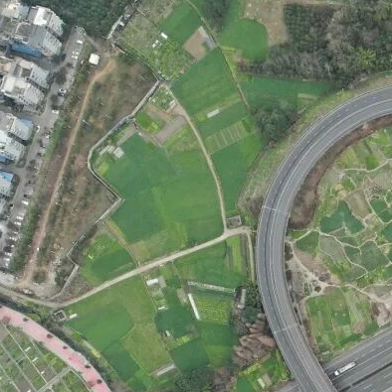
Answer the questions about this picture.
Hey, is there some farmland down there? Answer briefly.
Yes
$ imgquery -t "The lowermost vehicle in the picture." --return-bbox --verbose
[333,362,355,376]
